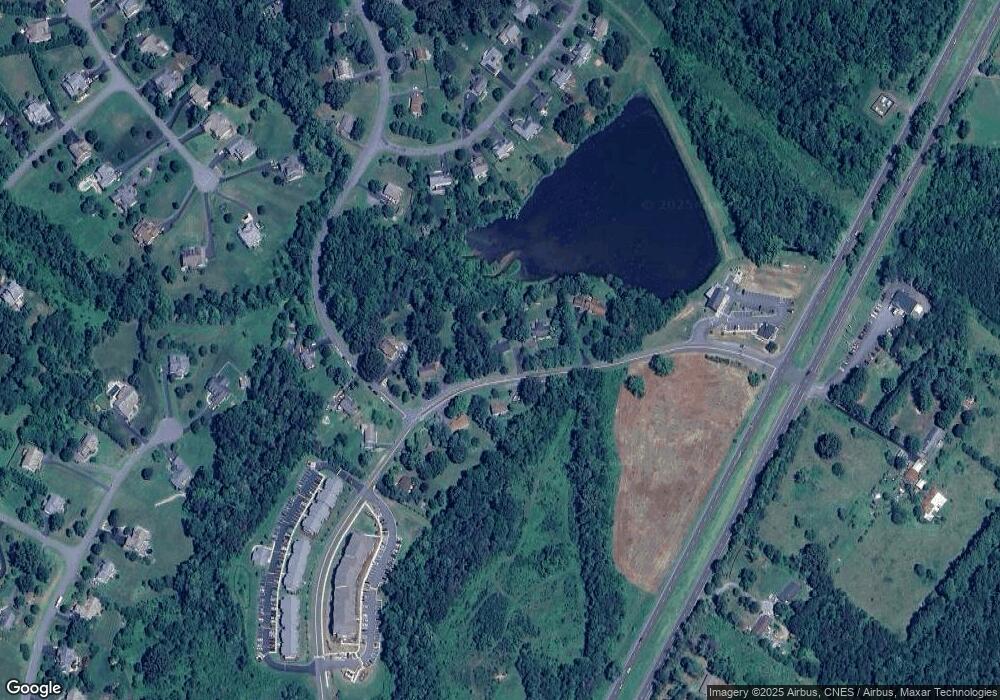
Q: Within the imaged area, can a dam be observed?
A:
Yes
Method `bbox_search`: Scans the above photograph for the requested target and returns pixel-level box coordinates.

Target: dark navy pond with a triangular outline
[466,90,723,302]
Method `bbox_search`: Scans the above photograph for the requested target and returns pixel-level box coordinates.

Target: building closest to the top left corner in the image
[25,21,51,41]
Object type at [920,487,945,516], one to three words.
barn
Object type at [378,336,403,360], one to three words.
house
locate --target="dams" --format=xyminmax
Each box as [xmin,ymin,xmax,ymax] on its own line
[641,71,740,280]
